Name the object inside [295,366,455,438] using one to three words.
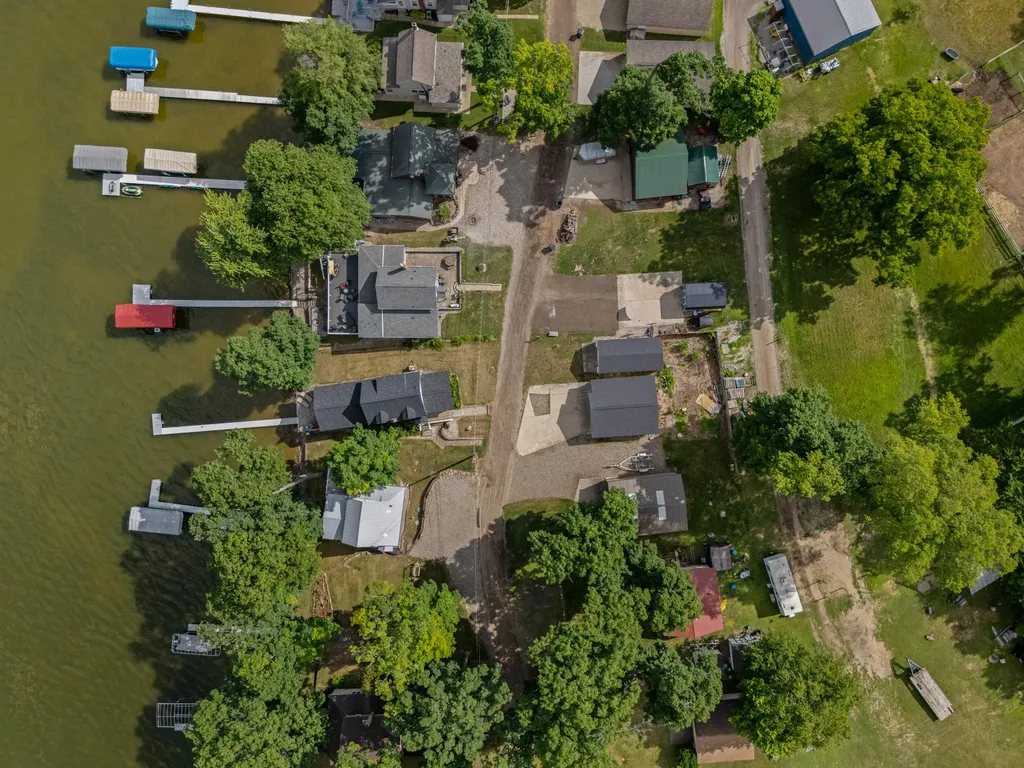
house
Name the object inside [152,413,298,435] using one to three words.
pier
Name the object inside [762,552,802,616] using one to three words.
camper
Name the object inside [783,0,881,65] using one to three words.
barn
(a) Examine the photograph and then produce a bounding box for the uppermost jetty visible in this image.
[170,0,330,24]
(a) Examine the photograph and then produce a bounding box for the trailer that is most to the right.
[904,655,955,720]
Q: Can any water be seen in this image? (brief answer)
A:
Yes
